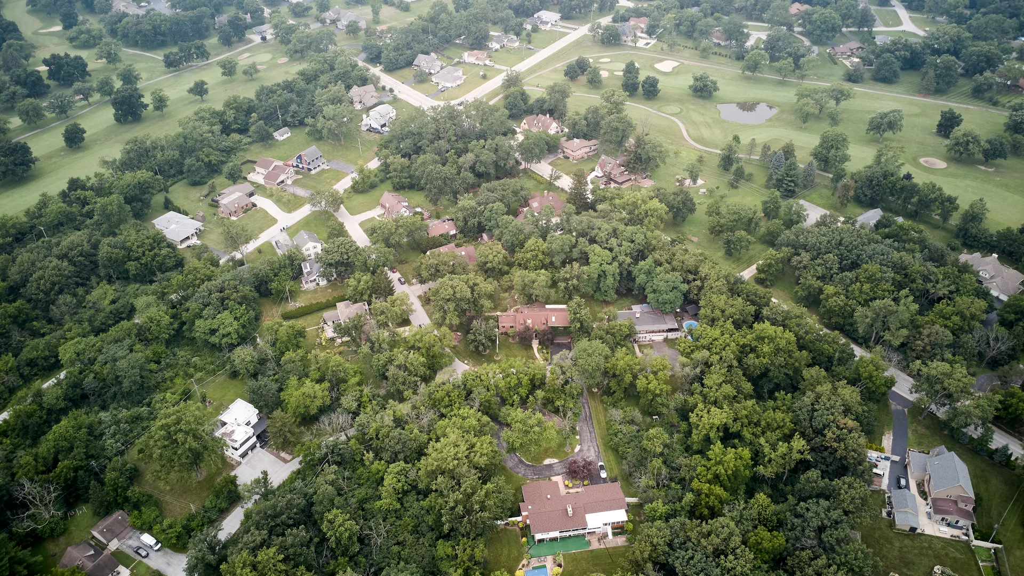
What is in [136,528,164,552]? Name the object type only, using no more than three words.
vehicle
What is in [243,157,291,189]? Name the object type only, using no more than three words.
house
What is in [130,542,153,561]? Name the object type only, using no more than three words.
car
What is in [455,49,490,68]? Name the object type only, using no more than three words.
house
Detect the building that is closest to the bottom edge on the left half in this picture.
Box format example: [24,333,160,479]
[63,536,132,576]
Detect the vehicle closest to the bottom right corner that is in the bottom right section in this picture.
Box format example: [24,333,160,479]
[896,471,908,489]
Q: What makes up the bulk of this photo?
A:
trees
